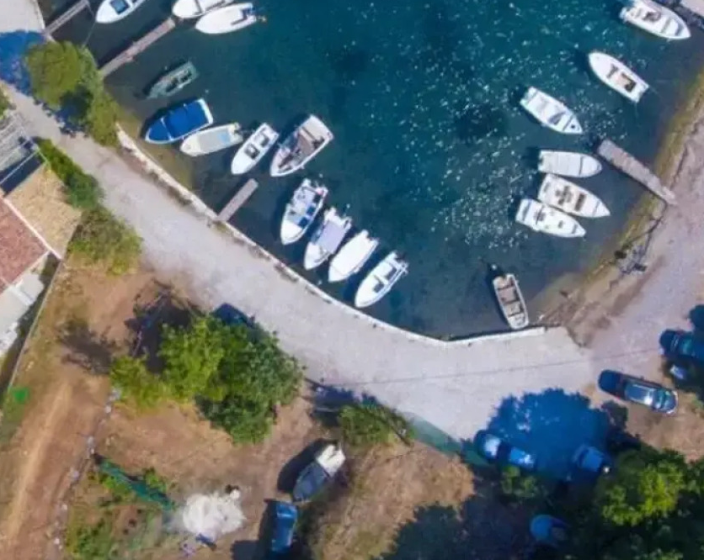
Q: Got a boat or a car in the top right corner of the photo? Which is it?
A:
boat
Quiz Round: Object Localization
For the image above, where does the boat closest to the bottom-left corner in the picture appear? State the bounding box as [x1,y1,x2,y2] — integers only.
[292,441,347,503]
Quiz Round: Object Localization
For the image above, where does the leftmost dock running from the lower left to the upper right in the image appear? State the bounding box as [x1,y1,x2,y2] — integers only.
[46,0,92,33]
